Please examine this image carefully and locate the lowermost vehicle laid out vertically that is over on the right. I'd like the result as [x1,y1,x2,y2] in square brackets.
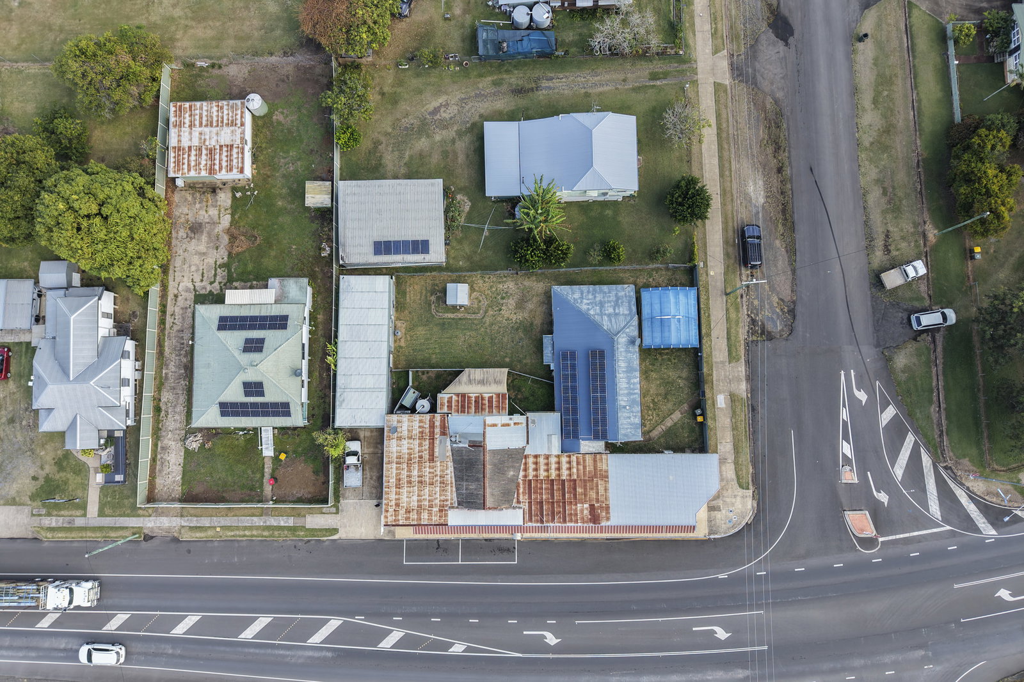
[745,220,769,270]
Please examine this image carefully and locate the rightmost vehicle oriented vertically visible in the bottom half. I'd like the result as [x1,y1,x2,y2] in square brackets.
[340,441,362,491]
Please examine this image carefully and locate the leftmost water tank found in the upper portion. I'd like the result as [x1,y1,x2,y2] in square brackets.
[242,88,269,115]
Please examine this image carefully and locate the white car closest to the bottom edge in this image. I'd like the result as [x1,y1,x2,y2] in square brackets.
[78,644,125,667]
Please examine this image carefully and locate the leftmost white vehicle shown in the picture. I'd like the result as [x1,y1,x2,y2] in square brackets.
[0,582,101,616]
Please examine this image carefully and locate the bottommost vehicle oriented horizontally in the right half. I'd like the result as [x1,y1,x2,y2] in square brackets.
[911,306,957,331]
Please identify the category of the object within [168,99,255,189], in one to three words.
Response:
shed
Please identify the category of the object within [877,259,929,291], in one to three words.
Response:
vehicle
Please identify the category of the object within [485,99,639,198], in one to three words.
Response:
house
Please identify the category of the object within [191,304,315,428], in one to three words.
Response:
house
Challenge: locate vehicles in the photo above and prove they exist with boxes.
[397,0,416,17]
[745,220,769,270]
[911,306,957,331]
[0,344,10,382]
[340,441,362,491]
[0,582,101,616]
[78,644,125,667]
[877,259,929,291]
